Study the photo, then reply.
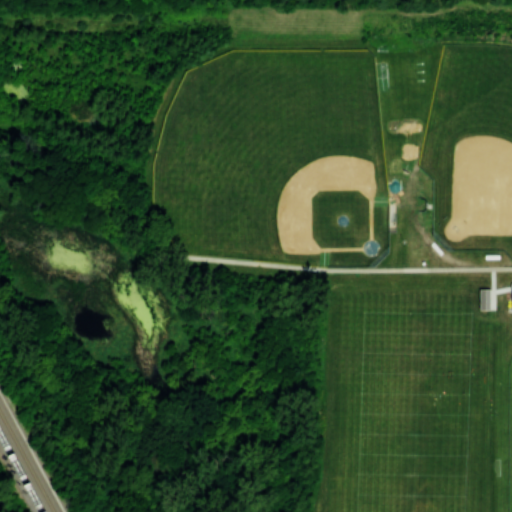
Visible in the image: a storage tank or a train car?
train car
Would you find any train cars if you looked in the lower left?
Yes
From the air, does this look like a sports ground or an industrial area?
sports ground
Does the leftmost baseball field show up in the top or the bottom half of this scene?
top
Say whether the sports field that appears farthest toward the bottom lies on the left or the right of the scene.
right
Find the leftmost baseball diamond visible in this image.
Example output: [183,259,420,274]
[153,51,388,266]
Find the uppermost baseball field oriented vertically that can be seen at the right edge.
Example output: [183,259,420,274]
[421,42,512,250]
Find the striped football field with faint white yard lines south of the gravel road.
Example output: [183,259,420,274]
[340,292,484,512]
